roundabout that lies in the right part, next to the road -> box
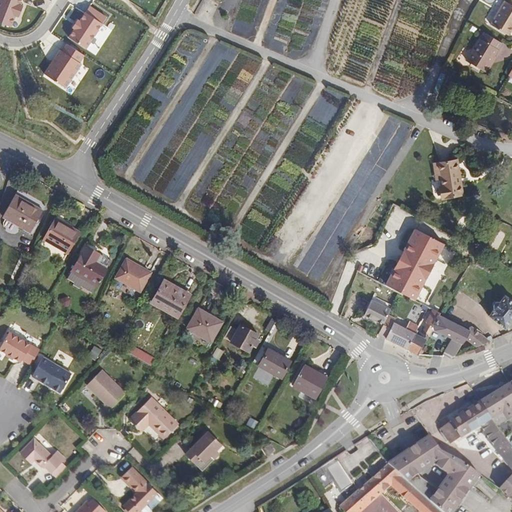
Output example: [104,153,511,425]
[352,340,417,414]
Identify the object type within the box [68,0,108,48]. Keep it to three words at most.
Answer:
house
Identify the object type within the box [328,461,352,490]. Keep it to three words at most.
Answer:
house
